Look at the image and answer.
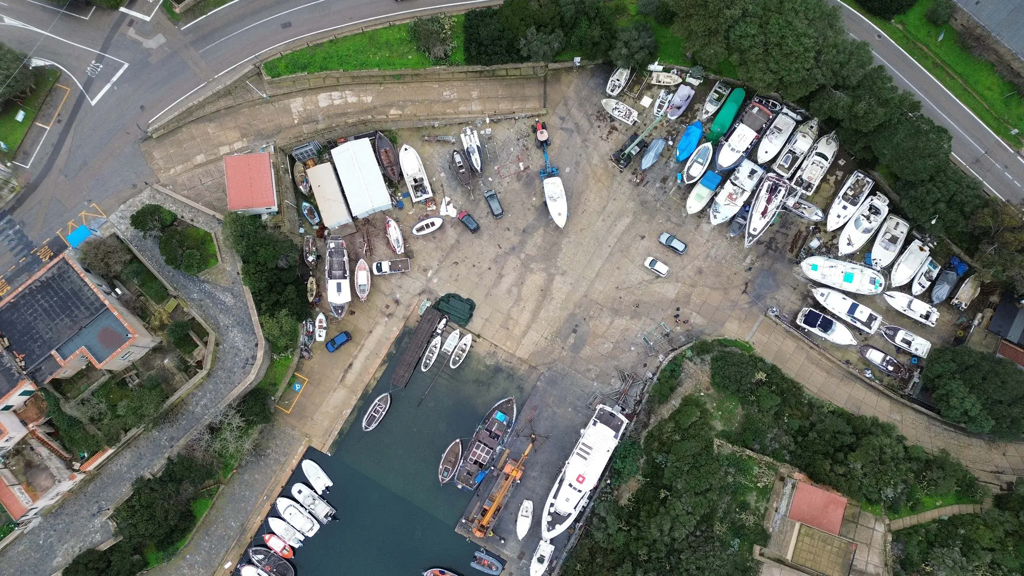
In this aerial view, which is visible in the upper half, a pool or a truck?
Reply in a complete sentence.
What appears in the upper half is a truck.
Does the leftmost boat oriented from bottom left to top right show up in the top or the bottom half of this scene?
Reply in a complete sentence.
The bottom half of the photo is where the leftmost boat oriented from bottom left to top right is.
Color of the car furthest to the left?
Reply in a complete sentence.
In this view, the car furthest to the left is blue.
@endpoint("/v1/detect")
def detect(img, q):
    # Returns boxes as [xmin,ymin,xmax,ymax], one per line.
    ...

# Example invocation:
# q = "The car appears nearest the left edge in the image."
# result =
[325,330,354,354]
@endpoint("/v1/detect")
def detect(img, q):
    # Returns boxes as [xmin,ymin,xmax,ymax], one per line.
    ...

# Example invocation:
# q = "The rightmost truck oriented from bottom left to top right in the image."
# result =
[607,106,674,177]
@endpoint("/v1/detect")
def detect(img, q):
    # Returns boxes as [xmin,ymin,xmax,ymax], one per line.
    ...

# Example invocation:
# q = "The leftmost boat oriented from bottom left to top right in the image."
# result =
[363,393,389,432]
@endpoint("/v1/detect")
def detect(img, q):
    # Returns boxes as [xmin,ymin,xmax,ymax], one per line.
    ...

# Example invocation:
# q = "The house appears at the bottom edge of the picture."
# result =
[763,475,858,576]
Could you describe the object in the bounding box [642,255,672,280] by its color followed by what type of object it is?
white car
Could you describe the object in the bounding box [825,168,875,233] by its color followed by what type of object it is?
white boat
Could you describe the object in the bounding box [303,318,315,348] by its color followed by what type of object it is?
gray boat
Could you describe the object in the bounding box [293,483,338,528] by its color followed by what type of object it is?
white boat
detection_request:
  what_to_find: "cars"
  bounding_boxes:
[456,209,482,235]
[484,189,506,220]
[657,231,690,257]
[325,330,354,354]
[642,255,672,280]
